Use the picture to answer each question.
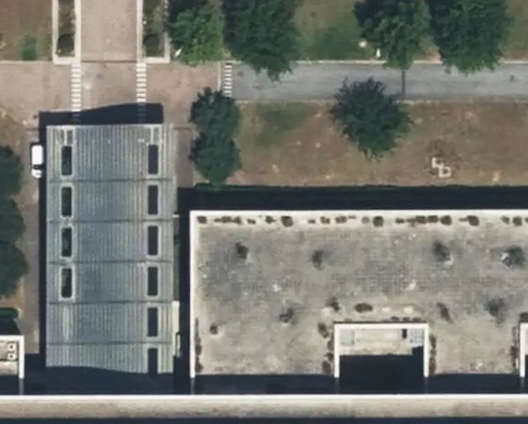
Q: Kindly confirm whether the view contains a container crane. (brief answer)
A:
No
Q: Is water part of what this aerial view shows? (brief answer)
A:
No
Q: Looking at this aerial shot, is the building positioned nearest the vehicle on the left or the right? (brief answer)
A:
left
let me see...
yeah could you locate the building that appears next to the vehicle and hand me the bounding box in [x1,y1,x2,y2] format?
[47,125,180,397]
